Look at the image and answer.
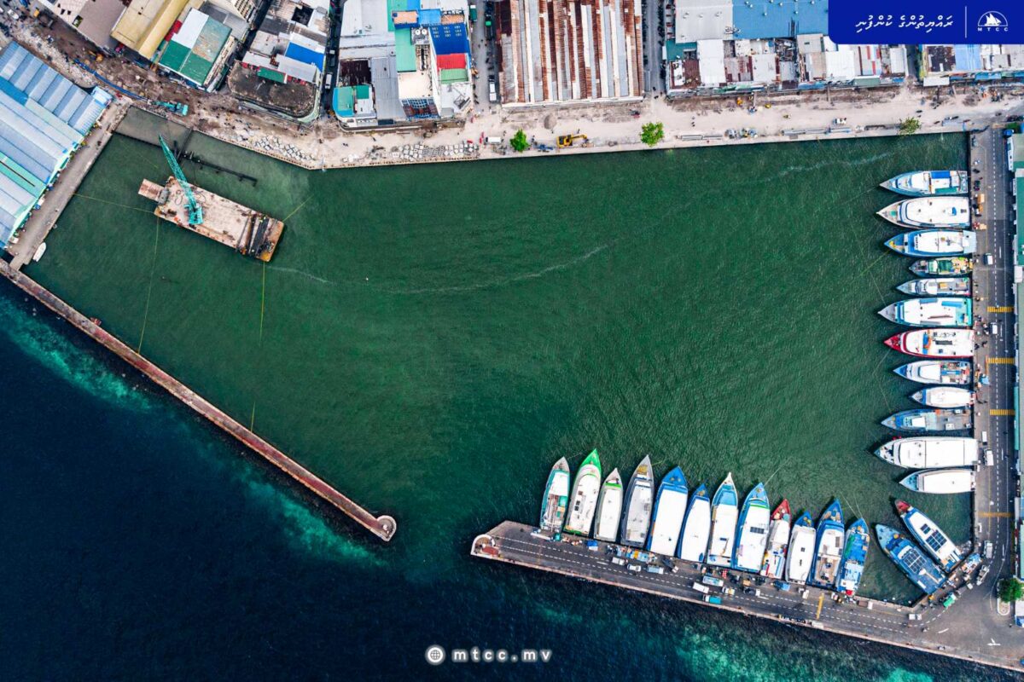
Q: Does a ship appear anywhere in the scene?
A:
Yes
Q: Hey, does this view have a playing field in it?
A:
No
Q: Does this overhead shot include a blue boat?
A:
Yes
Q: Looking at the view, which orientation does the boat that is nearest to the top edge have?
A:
from side to side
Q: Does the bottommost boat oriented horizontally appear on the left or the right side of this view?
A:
right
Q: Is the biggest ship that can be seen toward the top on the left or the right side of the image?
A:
left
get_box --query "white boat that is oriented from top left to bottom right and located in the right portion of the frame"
[896,501,963,573]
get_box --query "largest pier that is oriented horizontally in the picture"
[471,520,946,649]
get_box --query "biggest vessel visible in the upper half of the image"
[80,176,312,350]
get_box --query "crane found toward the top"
[157,131,206,230]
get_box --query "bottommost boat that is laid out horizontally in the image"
[900,470,977,495]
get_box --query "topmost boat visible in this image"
[857,170,969,199]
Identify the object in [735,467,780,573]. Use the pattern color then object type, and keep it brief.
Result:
white boat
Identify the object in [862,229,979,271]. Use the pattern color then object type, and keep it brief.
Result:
white boat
